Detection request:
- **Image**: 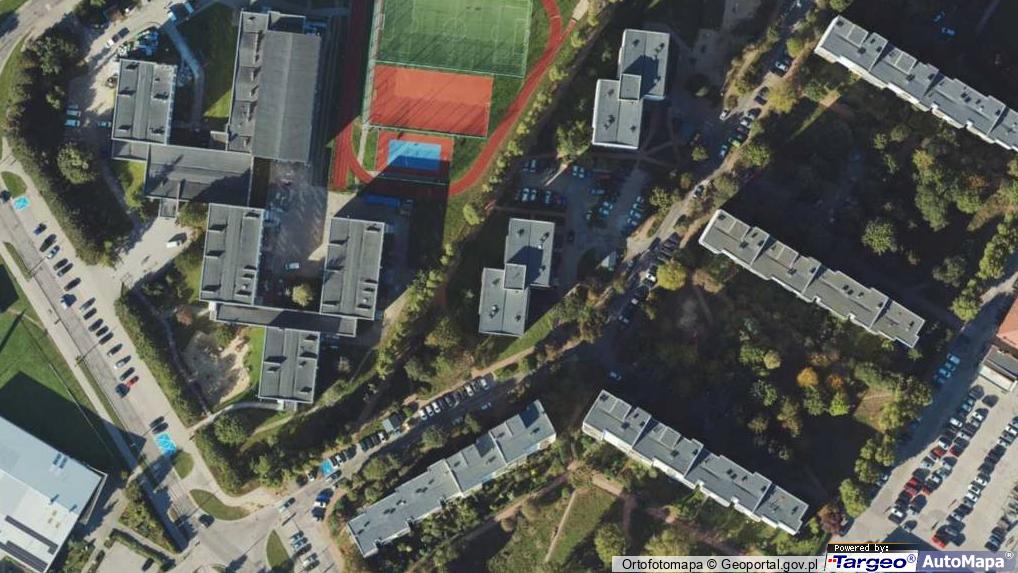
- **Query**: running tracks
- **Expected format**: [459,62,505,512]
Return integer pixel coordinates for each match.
[331,0,578,201]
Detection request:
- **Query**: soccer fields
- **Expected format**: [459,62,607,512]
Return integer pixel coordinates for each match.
[376,0,533,78]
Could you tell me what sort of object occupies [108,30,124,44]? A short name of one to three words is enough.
vehicle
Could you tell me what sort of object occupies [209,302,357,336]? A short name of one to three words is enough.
building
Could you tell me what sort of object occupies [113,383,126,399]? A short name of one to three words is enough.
vehicle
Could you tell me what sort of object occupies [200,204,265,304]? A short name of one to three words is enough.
building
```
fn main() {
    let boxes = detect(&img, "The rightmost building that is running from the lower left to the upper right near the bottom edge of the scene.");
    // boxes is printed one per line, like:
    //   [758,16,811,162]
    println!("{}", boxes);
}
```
[349,400,555,555]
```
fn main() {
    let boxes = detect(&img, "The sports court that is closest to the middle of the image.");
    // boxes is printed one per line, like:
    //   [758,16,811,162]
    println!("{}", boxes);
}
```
[375,130,454,182]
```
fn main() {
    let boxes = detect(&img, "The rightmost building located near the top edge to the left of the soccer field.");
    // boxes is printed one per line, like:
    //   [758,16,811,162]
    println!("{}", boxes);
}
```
[210,10,322,162]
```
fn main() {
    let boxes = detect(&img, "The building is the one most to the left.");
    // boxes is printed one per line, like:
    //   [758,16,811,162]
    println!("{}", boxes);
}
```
[0,414,108,573]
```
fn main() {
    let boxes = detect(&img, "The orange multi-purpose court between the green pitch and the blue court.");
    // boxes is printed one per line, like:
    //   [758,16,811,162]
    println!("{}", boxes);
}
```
[369,66,492,136]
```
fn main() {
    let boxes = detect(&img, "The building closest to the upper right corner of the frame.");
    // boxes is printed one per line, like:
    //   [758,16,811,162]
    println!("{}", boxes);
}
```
[813,17,1018,164]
